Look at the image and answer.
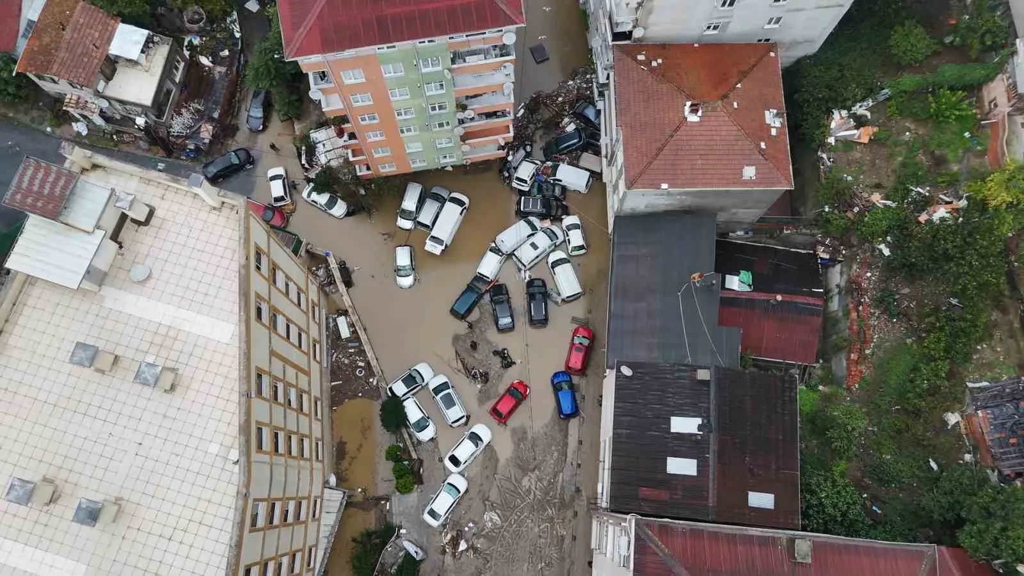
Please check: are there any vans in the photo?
Yes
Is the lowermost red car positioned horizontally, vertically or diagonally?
diagonally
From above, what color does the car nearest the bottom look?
white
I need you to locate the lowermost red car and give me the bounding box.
[486,379,532,429]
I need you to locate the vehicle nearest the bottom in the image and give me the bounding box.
[419,472,472,532]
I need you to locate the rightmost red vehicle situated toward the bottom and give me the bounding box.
[565,327,594,378]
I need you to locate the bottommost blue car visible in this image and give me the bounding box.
[550,372,579,421]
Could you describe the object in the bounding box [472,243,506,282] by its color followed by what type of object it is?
white van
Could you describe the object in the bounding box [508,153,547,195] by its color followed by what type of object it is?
white car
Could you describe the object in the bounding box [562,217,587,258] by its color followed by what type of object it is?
white car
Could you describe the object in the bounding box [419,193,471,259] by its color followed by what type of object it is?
white vehicle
